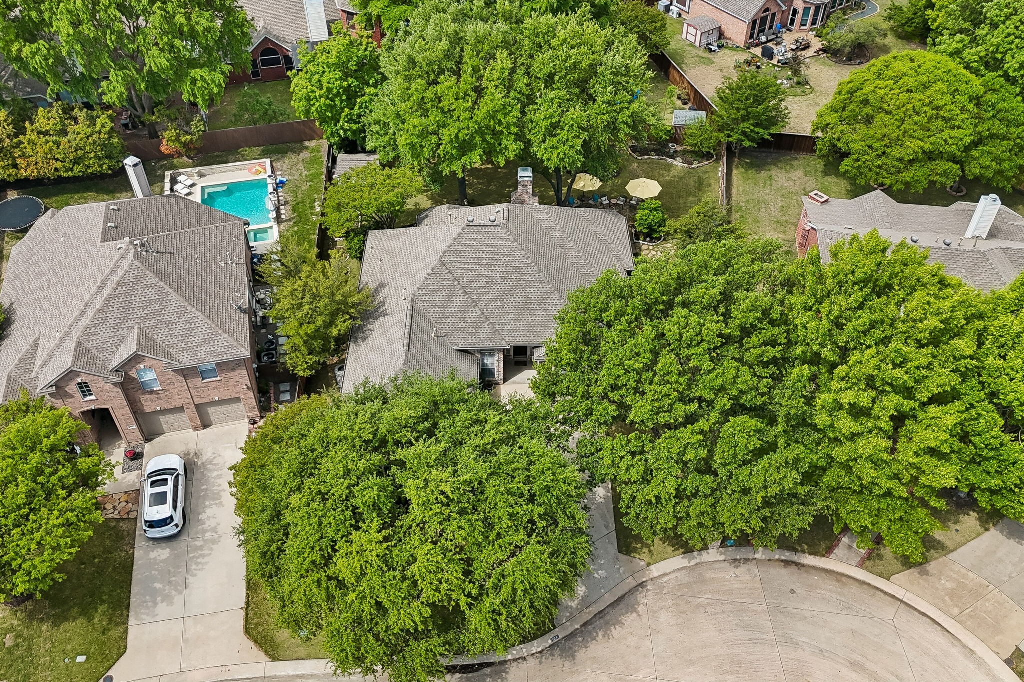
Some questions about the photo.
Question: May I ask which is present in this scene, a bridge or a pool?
pool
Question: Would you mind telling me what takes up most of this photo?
trees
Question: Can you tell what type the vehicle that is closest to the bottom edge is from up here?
car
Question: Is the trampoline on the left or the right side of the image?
left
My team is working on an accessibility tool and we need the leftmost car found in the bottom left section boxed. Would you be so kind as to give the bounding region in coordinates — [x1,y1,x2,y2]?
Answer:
[138,459,189,546]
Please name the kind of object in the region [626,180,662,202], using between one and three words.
umbrella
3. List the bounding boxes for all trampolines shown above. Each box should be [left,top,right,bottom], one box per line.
[0,199,50,237]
